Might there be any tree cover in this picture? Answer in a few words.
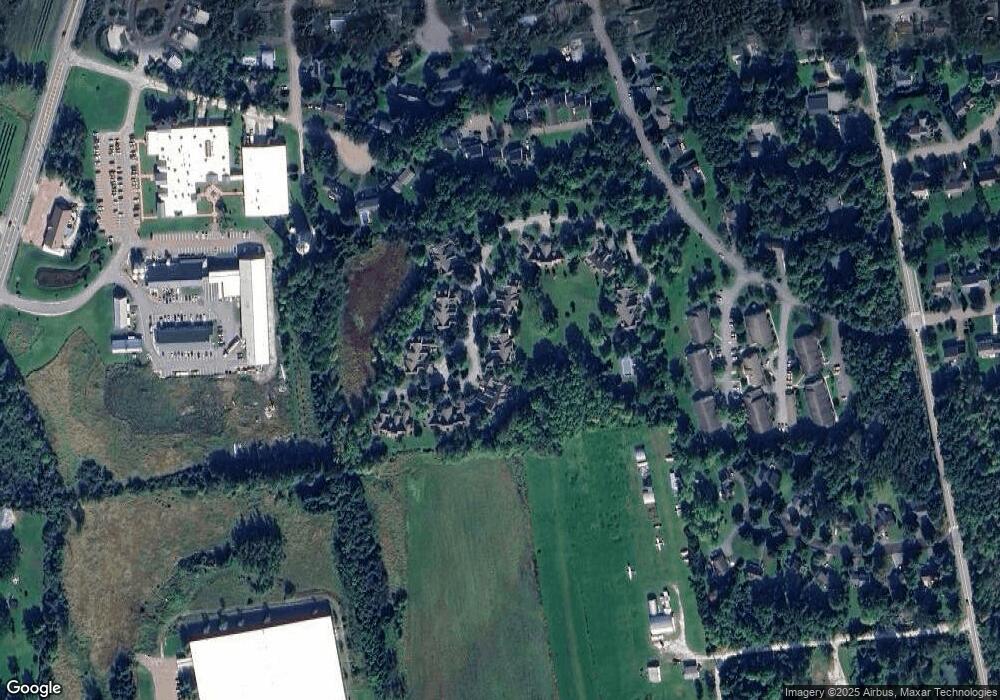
Yes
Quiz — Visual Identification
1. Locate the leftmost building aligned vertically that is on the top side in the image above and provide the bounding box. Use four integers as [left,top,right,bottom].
[44,207,71,250]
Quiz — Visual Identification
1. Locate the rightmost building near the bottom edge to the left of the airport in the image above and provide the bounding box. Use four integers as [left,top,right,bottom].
[190,610,348,700]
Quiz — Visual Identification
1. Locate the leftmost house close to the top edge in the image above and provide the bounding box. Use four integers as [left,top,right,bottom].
[109,25,125,48]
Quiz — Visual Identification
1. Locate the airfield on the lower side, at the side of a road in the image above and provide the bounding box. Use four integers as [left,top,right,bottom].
[526,426,706,700]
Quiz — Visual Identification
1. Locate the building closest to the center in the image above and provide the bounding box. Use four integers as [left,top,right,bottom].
[489,324,518,364]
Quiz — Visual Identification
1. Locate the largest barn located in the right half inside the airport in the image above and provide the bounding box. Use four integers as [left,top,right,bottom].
[649,614,675,634]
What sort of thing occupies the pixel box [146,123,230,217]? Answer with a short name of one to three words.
building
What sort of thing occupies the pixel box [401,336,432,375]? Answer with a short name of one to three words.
house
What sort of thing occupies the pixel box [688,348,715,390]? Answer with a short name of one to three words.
building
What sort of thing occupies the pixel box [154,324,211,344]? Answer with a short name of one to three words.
barn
